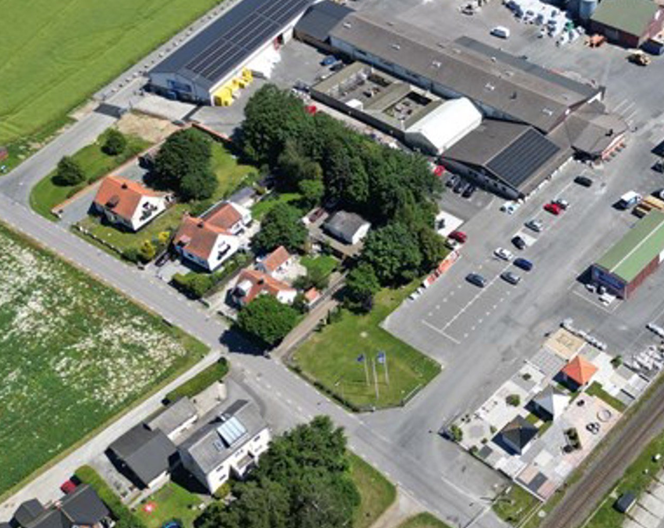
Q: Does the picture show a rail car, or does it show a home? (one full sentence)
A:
Visible in the photo is a home.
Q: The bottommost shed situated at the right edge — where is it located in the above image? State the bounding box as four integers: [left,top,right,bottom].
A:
[617,492,635,521]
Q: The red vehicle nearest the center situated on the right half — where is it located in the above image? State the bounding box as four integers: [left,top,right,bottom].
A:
[446,228,468,245]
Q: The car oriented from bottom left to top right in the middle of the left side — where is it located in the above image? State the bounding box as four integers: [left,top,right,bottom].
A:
[151,250,173,267]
